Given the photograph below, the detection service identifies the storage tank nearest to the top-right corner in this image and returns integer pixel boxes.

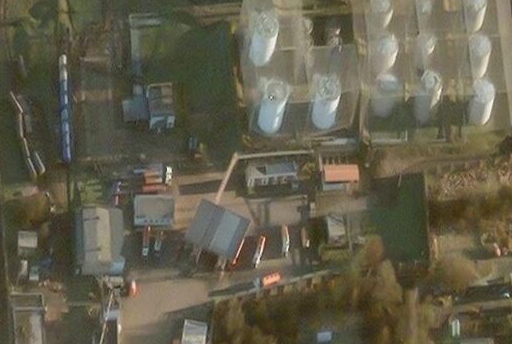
[458,0,490,34]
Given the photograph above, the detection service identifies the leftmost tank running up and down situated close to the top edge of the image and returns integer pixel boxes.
[247,9,281,70]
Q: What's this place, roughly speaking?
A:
industrial area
